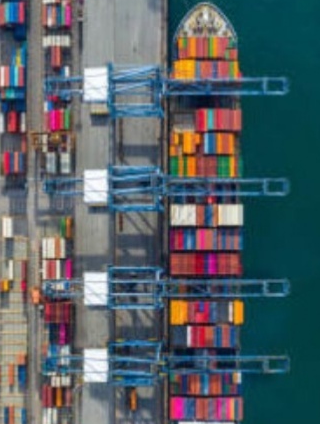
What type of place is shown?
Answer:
port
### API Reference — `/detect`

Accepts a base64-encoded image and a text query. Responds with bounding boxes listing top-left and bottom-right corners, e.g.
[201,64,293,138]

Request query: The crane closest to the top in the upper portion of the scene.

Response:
[44,62,289,125]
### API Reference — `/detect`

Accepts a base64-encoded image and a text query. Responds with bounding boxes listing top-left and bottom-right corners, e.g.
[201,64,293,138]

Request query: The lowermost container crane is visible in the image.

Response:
[44,334,289,387]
